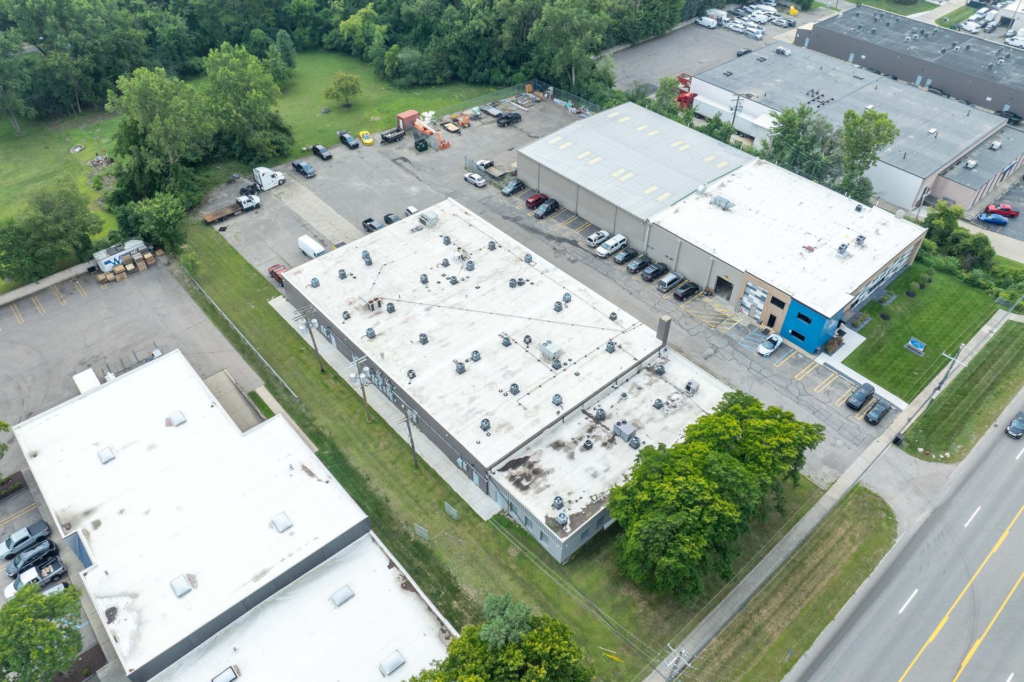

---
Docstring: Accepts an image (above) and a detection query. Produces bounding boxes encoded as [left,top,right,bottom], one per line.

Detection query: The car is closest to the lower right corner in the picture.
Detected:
[1001,410,1024,441]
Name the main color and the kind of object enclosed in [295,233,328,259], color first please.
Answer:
white vehicle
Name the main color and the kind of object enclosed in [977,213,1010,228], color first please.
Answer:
blue car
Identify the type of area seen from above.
industrial area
